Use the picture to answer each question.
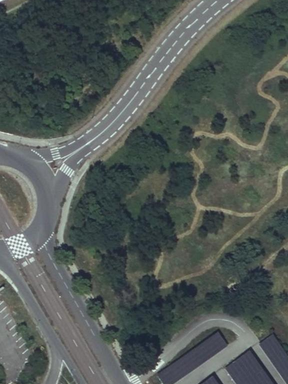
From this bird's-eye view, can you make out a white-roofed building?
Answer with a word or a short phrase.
No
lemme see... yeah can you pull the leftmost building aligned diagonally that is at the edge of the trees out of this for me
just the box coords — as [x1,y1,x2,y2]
[158,330,228,384]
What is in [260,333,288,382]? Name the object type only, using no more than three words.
building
